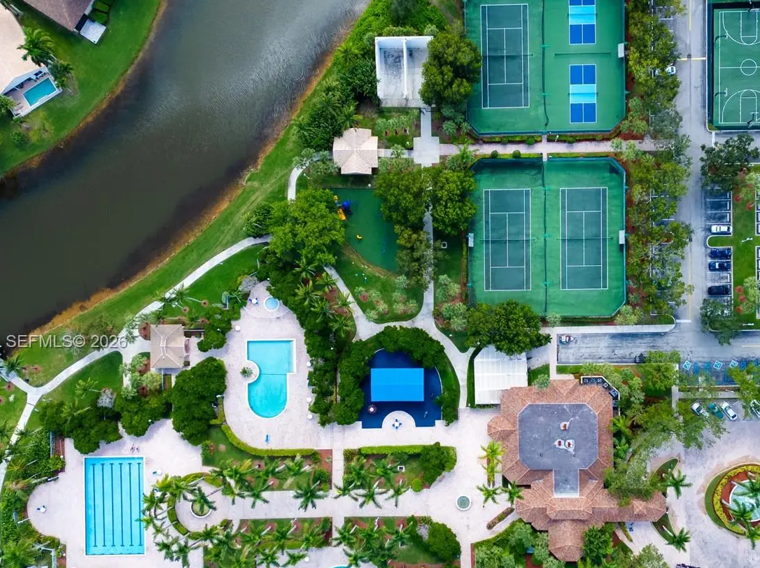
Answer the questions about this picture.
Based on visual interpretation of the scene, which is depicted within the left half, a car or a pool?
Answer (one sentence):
There is a pool within the left half.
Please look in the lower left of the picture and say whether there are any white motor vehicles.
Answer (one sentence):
No, I can find no white motor vehicle in the lower left of the picture.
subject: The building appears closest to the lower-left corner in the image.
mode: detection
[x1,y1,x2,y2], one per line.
[150,324,185,368]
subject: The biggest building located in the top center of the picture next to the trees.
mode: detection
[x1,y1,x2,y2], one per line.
[334,127,378,175]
